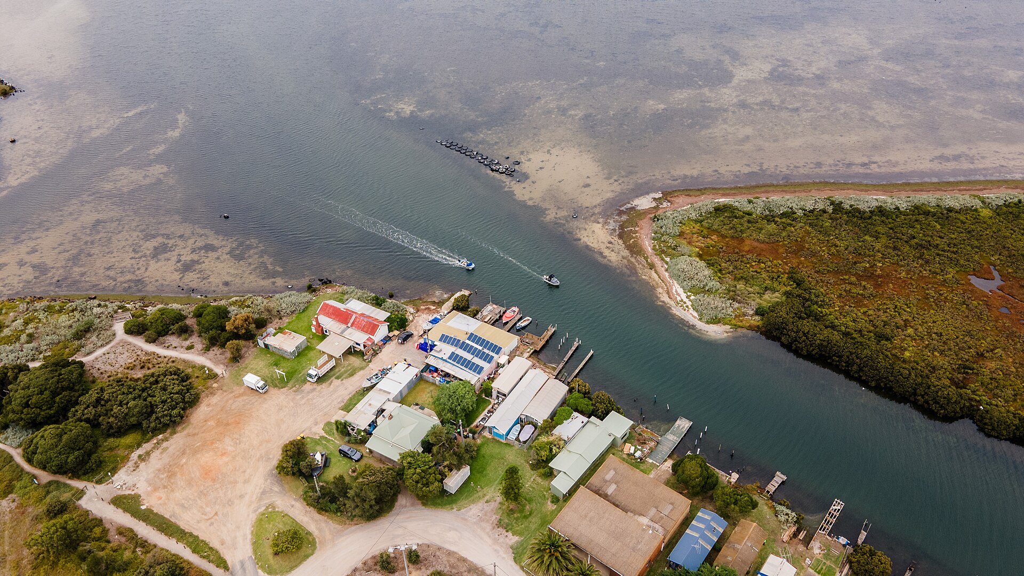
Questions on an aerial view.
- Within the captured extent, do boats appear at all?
Yes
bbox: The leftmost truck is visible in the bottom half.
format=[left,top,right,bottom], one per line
[239,370,268,394]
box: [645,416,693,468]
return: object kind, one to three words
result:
pier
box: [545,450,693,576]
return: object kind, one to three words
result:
building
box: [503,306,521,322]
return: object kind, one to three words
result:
boat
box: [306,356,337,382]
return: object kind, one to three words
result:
truck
